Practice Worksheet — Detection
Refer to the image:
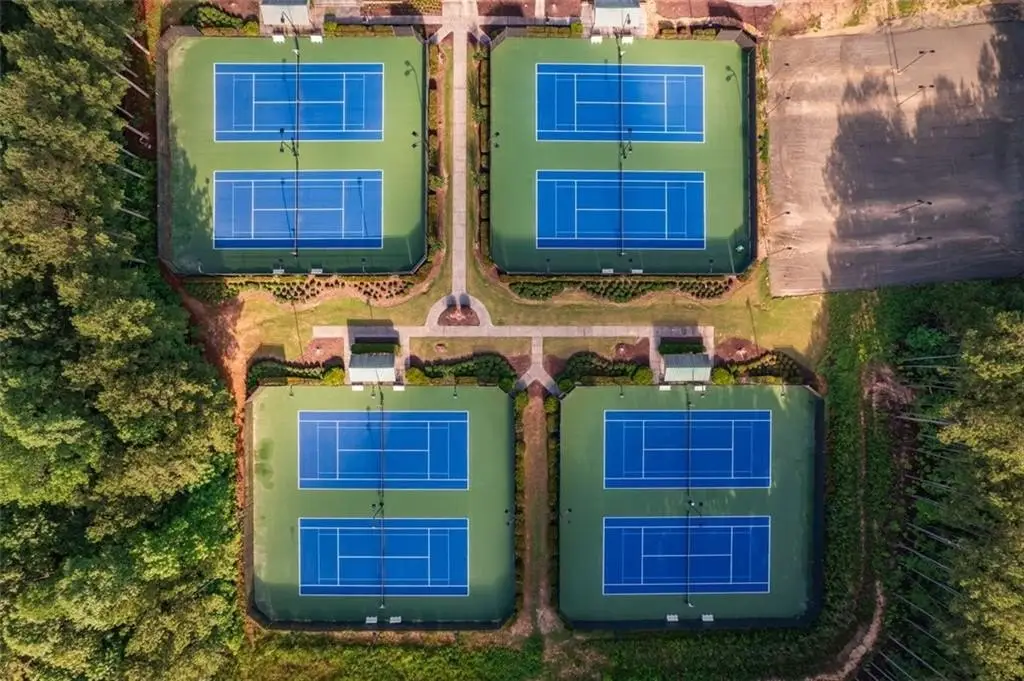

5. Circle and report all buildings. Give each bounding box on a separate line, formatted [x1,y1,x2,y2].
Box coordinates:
[260,0,311,31]
[663,353,712,382]
[593,0,640,33]
[348,353,396,382]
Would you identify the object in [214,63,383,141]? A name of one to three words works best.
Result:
tennis court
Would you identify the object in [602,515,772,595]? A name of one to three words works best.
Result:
tennis court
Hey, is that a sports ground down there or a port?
sports ground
